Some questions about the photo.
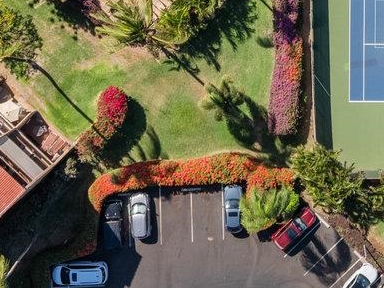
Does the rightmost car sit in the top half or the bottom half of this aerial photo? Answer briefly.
bottom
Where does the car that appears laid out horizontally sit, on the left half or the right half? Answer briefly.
left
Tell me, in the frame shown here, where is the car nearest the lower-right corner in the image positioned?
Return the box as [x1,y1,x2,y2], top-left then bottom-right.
[338,257,381,288]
